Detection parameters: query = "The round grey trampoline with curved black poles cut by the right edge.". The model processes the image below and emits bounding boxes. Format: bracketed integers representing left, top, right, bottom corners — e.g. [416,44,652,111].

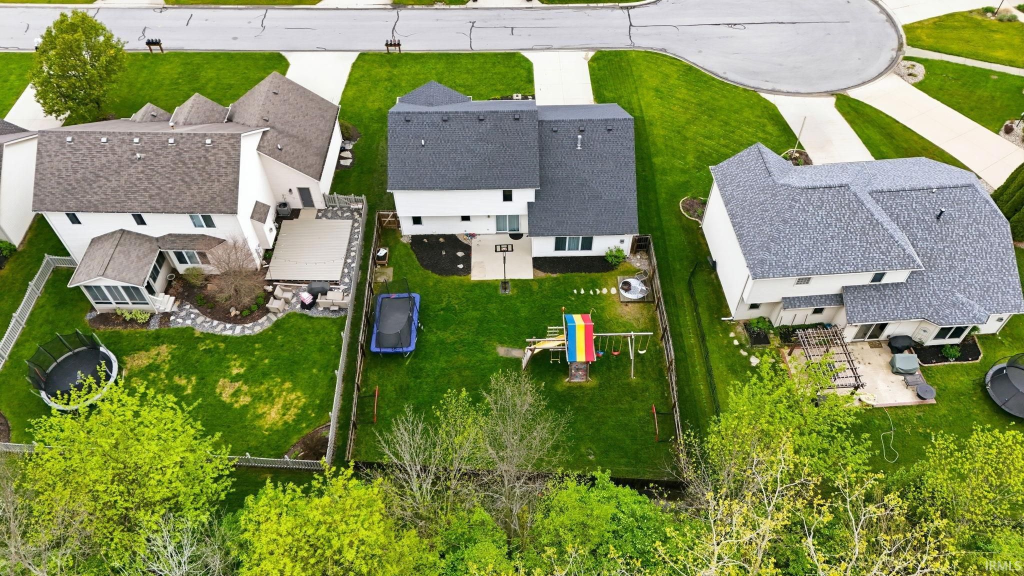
[981,350,1024,419]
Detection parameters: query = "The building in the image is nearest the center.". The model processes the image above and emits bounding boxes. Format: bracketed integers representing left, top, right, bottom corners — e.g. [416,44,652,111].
[388,80,639,262]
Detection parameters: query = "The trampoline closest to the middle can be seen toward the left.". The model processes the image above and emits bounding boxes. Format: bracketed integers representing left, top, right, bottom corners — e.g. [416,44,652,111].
[368,280,422,355]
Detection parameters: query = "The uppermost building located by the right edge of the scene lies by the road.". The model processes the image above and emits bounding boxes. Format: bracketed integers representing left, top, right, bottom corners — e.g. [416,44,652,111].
[696,142,1024,346]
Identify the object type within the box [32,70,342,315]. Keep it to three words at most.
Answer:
house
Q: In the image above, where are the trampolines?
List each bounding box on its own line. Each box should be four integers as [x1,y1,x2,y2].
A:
[981,350,1024,419]
[22,325,121,409]
[368,280,422,355]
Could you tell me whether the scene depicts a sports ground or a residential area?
residential area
